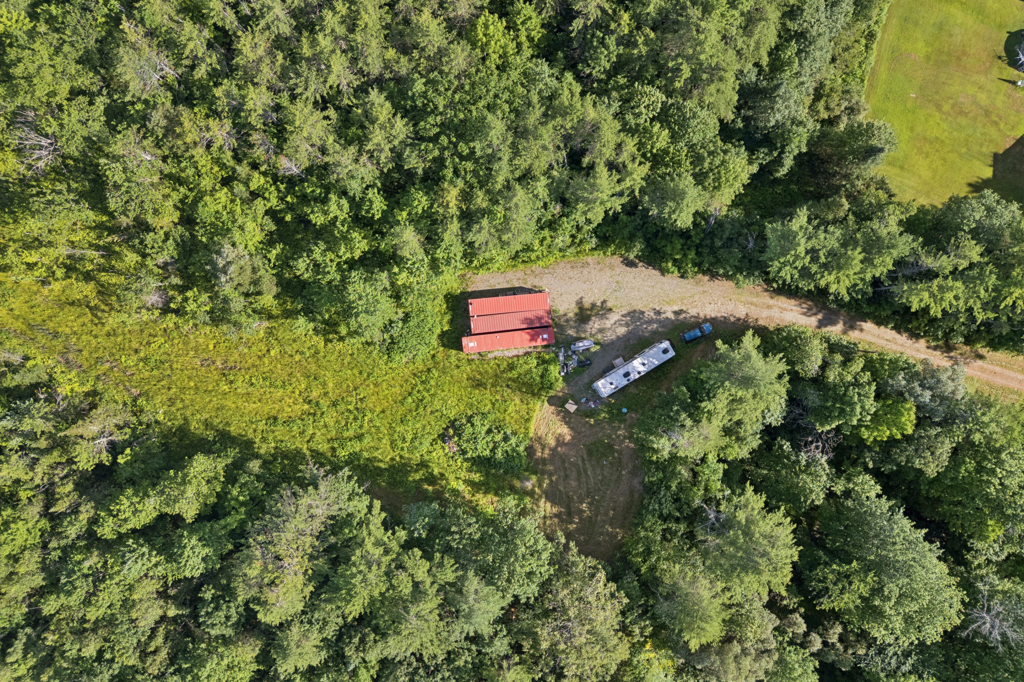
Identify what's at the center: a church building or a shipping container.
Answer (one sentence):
What appears at the center is a shipping container.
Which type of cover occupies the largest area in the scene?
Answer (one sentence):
What you mostly see from above here is trees.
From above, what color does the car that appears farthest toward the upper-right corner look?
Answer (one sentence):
The car that appears farthest toward the upper-right corner looks blue in the image.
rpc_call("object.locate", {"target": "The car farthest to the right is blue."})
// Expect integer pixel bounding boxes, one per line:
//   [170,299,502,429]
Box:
[679,321,712,343]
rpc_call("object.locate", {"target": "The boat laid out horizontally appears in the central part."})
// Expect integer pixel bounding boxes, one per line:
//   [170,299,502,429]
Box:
[570,339,596,351]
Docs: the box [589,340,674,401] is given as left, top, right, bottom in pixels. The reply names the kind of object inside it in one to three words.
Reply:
camper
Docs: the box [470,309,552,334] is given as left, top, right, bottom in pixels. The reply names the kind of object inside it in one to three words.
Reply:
shipping container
